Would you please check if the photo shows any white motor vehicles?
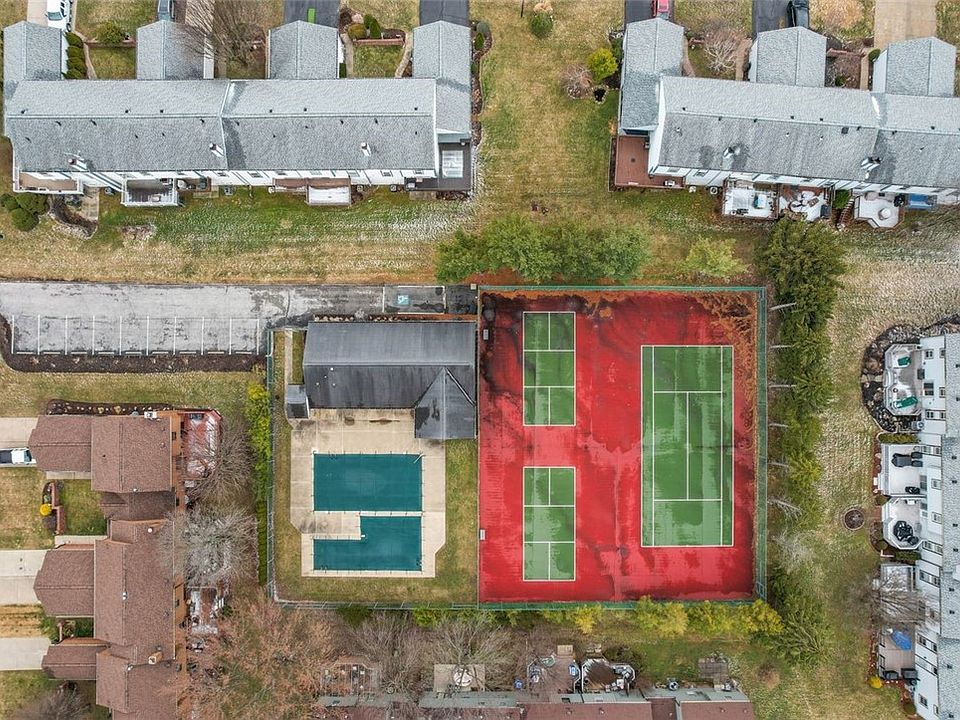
Yes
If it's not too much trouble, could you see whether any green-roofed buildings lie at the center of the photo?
No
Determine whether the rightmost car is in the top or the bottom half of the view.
top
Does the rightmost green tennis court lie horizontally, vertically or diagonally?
vertically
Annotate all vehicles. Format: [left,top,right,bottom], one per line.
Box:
[156,0,178,22]
[46,0,72,35]
[787,0,810,28]
[652,0,671,21]
[0,447,36,468]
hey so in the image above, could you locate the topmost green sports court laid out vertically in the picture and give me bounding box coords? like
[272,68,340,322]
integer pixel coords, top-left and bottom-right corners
[523,311,576,426]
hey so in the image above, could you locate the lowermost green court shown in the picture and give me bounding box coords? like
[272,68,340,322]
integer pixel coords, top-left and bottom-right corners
[523,467,576,580]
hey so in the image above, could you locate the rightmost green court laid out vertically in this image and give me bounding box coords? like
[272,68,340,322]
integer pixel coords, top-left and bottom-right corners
[641,346,733,547]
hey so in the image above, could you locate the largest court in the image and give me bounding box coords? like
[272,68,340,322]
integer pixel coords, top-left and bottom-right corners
[479,291,758,601]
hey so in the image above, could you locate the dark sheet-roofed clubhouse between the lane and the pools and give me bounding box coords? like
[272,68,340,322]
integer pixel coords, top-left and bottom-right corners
[302,322,476,442]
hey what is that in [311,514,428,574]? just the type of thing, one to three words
swimming pool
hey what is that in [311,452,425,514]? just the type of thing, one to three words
swimming pool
